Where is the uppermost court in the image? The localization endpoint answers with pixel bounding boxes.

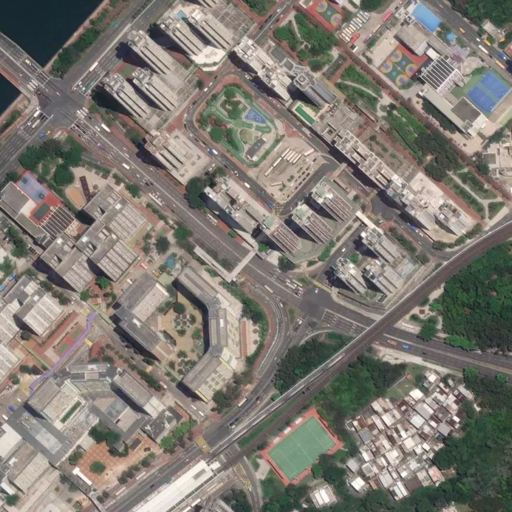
[308,0,345,33]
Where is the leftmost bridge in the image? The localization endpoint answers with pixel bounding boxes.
[0,30,51,98]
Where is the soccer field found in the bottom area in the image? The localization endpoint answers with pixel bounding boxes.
[262,406,344,484]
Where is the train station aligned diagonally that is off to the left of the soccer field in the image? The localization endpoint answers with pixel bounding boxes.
[129,459,222,512]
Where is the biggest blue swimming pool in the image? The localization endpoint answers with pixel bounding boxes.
[414,4,442,34]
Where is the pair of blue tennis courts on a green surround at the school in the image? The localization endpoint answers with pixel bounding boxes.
[456,69,512,117]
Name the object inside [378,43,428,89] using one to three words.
sports court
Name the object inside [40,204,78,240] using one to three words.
building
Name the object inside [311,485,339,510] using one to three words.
house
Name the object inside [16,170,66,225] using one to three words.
sports court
